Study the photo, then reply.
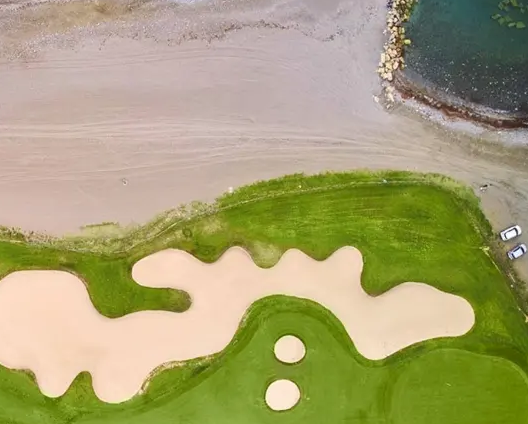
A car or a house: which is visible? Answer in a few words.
car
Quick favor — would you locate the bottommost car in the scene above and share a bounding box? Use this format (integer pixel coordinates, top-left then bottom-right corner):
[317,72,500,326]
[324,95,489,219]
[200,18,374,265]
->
[506,244,528,261]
